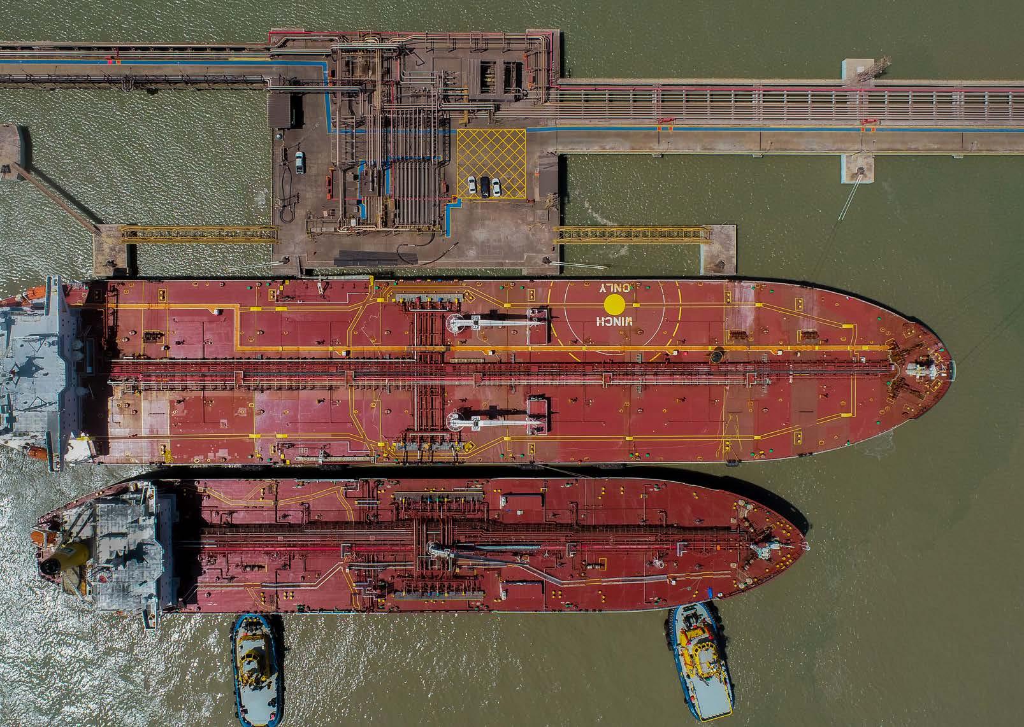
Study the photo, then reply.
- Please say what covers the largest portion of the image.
water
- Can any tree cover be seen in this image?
No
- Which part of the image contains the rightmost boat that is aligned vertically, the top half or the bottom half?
bottom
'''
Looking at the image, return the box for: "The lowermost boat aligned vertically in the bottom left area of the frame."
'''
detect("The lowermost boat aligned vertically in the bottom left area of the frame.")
[232,615,282,727]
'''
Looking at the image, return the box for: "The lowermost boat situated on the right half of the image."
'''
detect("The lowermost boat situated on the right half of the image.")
[669,603,738,723]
